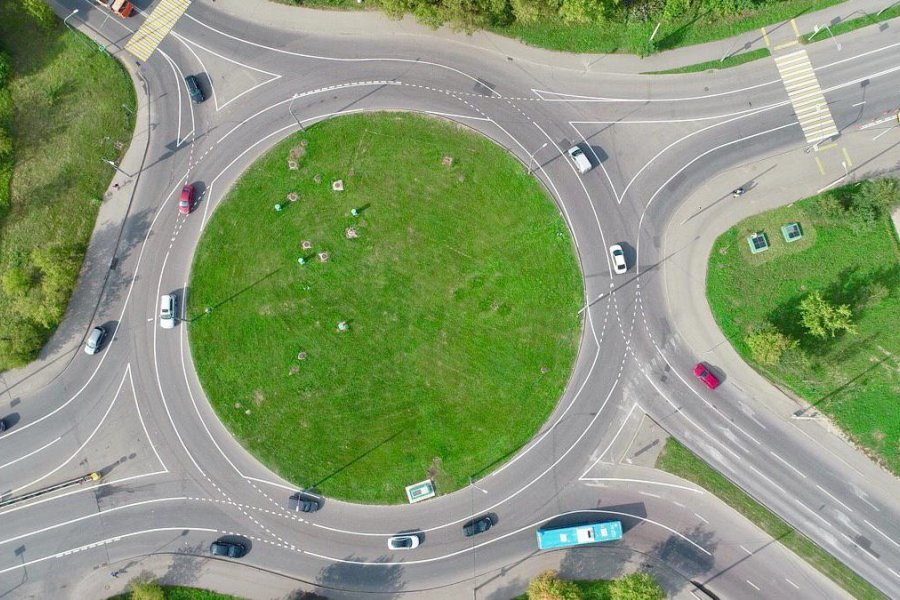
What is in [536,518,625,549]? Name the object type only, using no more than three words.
bus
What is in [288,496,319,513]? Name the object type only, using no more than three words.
car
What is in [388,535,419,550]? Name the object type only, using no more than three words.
car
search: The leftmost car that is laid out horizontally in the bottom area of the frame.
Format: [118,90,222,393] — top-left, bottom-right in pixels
[212,542,245,559]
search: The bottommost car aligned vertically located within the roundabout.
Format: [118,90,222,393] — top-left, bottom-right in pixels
[160,295,175,328]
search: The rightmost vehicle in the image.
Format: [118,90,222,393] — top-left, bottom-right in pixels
[693,364,720,390]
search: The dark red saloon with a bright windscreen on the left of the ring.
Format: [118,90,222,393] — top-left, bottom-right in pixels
[178,185,195,214]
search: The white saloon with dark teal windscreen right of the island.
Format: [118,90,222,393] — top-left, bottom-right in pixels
[609,245,627,276]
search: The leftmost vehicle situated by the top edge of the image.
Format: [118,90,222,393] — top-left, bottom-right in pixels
[96,0,135,21]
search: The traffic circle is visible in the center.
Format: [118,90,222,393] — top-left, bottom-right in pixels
[120,48,711,579]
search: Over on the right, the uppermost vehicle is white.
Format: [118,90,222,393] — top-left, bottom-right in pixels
[570,146,592,174]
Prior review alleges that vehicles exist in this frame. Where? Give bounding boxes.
[388,535,419,550]
[185,76,204,105]
[536,518,625,549]
[288,496,319,513]
[85,326,105,355]
[462,515,494,536]
[178,185,195,214]
[160,295,175,328]
[212,542,245,559]
[570,146,592,174]
[96,0,135,21]
[609,245,627,276]
[693,364,720,390]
